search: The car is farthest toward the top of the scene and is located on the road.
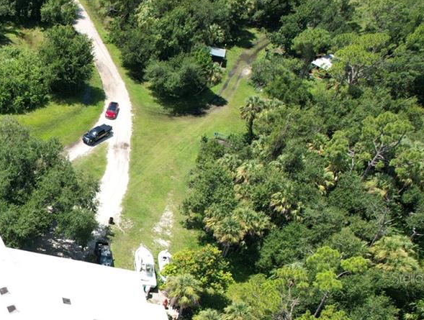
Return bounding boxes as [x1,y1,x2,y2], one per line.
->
[105,101,118,117]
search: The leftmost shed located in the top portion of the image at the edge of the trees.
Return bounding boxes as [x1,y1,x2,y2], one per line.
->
[206,44,233,64]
